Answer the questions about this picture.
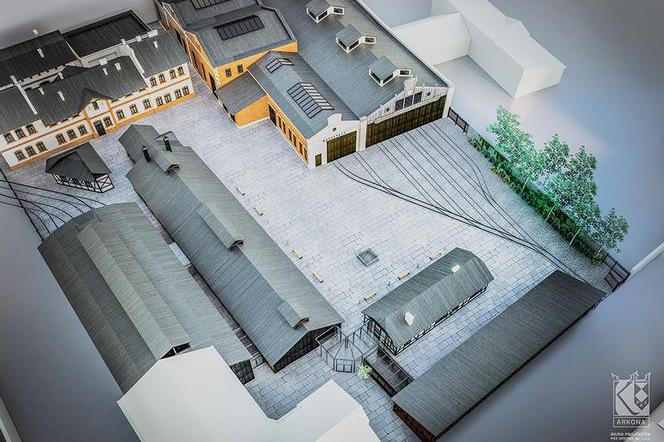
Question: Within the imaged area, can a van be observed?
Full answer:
No, the picture doesn't show any van.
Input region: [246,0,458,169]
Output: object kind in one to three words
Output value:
shed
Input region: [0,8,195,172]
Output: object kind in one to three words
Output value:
building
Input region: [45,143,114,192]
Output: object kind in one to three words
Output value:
house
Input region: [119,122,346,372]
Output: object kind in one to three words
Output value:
building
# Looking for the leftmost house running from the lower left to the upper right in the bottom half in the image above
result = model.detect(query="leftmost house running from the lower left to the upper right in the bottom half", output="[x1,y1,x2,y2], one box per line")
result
[361,248,494,356]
